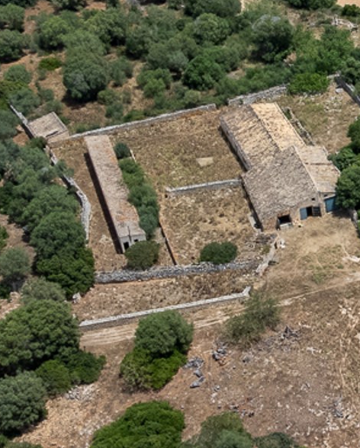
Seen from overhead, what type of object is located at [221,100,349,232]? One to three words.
barn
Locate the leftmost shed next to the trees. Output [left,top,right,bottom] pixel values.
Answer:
[26,116,76,153]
